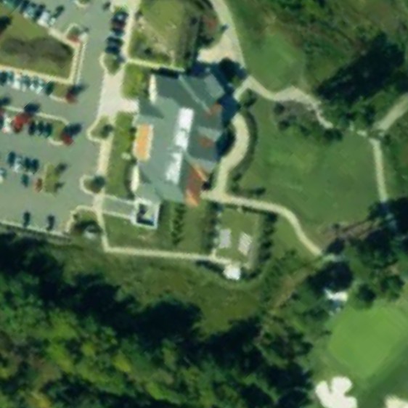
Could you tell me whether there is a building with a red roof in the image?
No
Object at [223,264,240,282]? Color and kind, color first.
white gazebo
